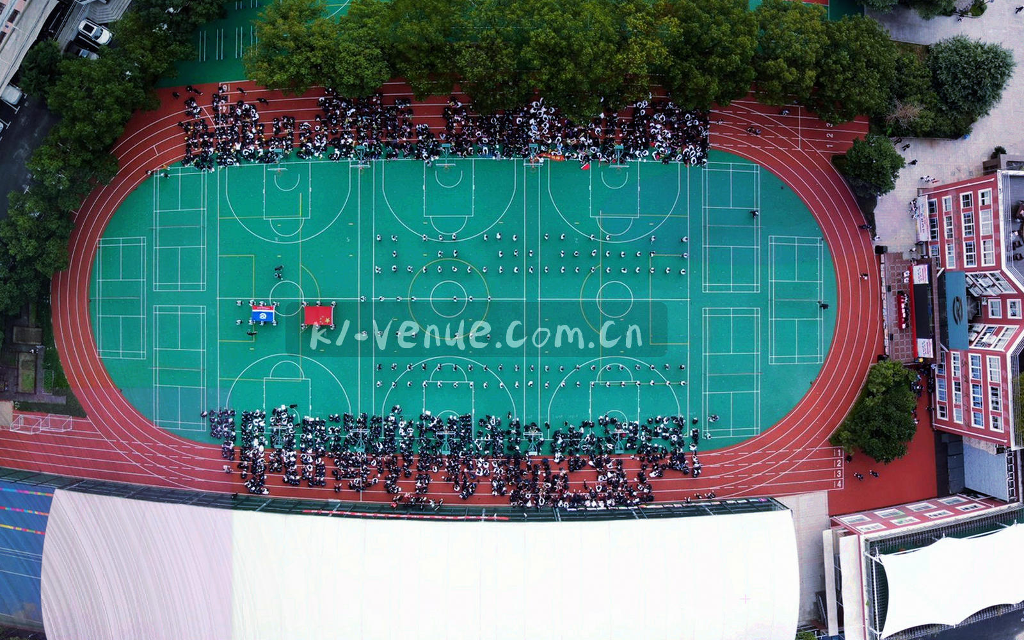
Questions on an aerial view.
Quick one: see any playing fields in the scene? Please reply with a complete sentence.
Yes, there's a playing field down there.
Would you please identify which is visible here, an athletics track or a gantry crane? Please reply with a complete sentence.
Looking from above, you can make out an athletics track.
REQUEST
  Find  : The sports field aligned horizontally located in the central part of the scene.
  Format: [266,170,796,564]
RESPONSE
[89,141,838,457]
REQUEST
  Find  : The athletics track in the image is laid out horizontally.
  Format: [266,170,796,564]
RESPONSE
[4,81,880,505]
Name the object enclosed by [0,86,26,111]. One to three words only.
car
